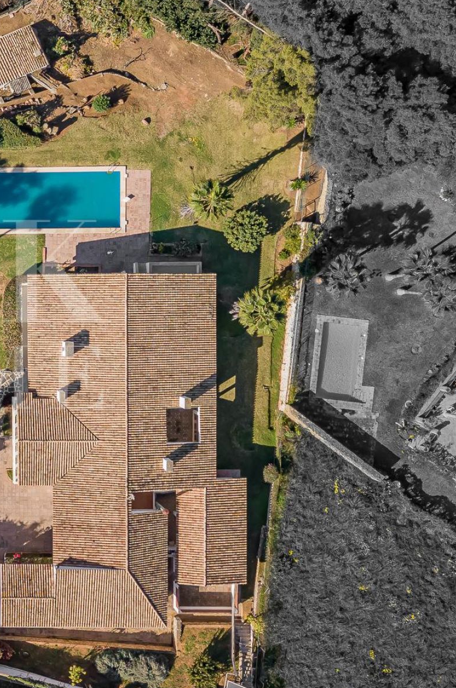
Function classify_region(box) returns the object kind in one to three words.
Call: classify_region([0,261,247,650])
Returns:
house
